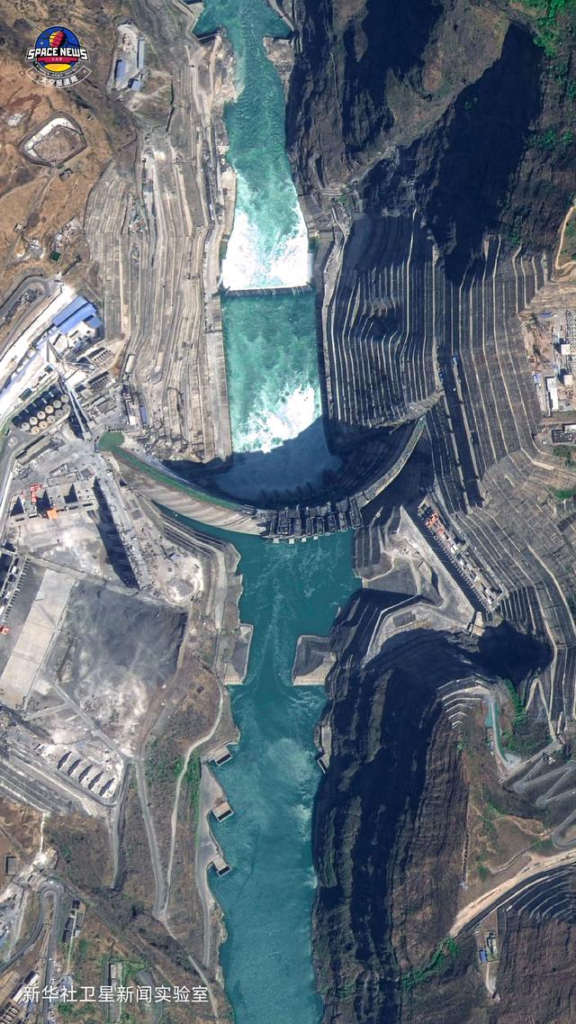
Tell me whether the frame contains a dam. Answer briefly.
Yes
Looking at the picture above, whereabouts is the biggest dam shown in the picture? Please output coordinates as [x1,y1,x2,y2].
[98,414,429,545]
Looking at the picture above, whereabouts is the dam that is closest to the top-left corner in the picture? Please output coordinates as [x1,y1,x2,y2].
[220,280,316,295]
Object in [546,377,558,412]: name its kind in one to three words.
building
